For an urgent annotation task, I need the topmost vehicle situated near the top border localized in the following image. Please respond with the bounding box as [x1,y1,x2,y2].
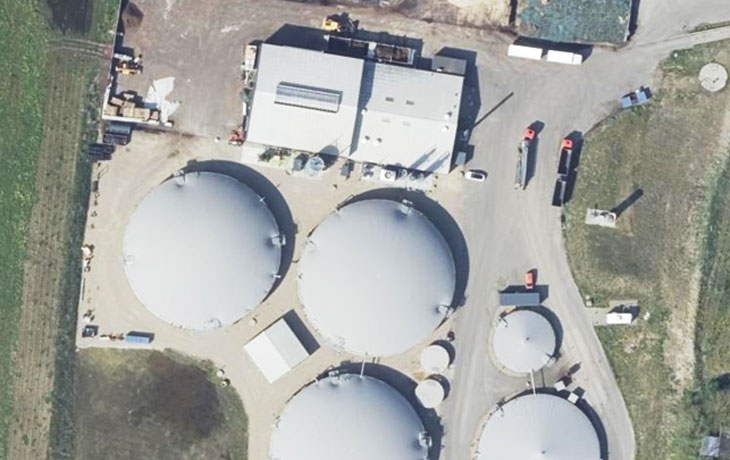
[323,19,355,31]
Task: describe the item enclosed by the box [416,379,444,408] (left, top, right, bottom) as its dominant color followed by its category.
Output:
white silo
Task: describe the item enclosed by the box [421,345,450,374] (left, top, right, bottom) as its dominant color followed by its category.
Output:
white silo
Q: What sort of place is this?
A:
industrial area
